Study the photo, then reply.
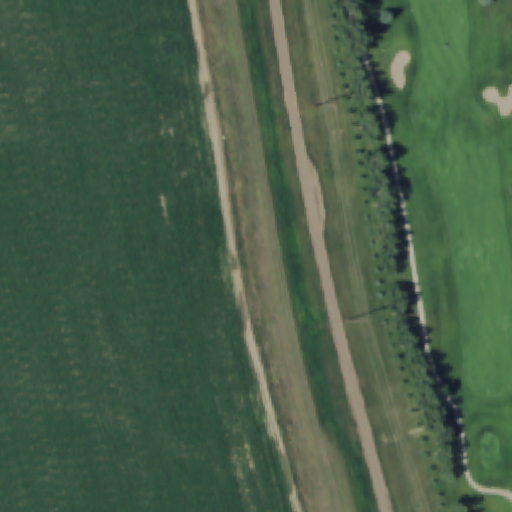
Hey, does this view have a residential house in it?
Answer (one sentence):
No, the scene contains no residential house.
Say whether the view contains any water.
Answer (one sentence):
No, no water is visible.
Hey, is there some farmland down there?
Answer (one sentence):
Yes, the picture does contain farmland.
